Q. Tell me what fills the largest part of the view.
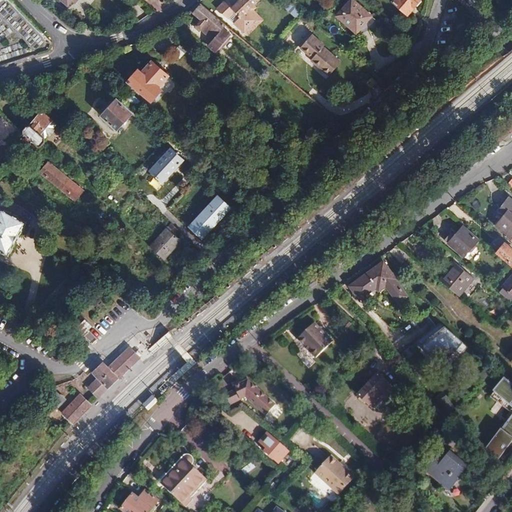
trees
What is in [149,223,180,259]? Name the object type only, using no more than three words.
house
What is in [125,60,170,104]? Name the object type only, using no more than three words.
house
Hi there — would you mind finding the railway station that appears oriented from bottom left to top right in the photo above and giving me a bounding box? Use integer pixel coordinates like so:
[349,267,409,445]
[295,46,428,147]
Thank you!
[58,324,236,452]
